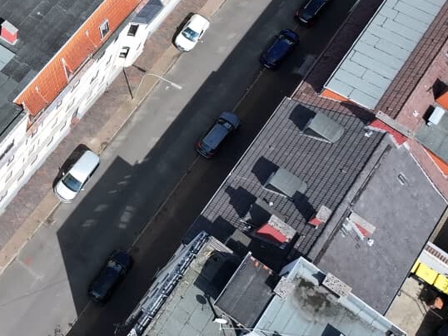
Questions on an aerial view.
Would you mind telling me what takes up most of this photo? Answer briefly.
buildings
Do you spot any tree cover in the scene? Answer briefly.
No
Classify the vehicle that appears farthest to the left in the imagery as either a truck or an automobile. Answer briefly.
automobile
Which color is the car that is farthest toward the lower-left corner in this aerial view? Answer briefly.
black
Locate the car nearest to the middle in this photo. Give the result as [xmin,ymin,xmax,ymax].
[190,110,241,166]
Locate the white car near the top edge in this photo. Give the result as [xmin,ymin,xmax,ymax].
[170,12,213,57]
